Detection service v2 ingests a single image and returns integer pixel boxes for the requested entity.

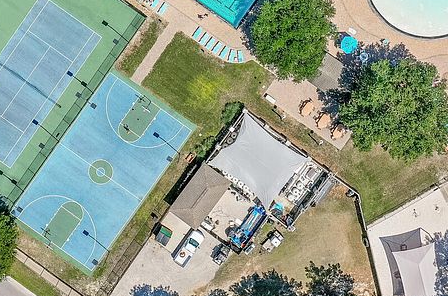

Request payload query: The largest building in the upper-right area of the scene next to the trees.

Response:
[307,52,346,92]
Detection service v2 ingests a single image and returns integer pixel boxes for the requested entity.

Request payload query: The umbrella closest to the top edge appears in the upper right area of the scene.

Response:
[341,37,358,52]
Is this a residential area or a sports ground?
sports ground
